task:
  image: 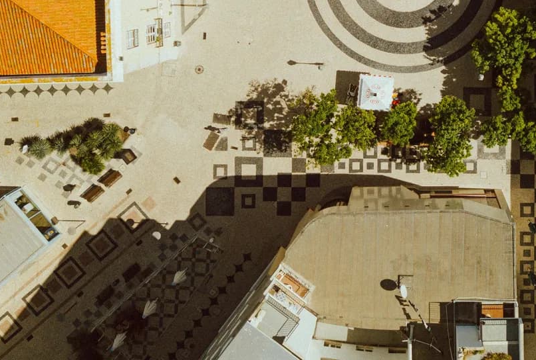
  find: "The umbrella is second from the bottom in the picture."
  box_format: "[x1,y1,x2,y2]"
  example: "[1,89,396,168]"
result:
[145,295,162,316]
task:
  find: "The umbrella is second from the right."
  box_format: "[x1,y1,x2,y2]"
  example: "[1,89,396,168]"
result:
[174,266,189,285]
